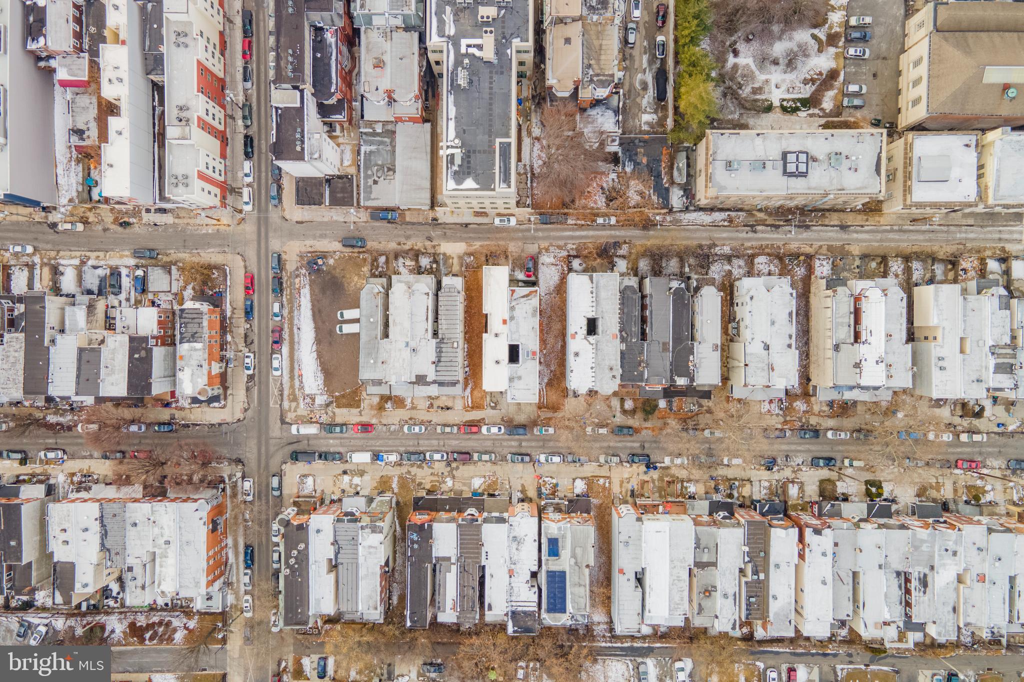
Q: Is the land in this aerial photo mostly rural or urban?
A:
urban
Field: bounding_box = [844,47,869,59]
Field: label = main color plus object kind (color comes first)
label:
white vehicle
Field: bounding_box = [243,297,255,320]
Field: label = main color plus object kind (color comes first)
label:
blue vehicle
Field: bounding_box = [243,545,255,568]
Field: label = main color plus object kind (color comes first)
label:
blue vehicle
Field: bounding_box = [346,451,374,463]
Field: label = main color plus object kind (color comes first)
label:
white vehicle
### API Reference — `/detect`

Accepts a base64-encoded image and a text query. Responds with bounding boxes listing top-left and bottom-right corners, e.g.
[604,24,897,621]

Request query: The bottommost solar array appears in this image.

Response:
[547,571,566,613]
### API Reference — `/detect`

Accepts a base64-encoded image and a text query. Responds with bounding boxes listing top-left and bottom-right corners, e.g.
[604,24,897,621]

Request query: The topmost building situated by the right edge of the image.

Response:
[898,0,1024,129]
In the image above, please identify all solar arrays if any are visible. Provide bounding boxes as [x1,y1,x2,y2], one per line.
[548,538,558,557]
[547,571,566,613]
